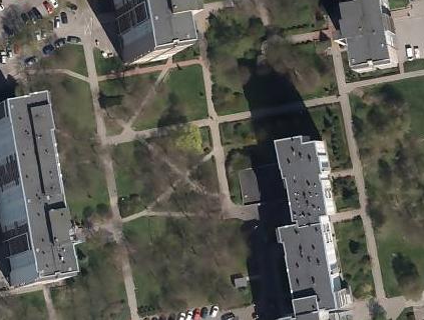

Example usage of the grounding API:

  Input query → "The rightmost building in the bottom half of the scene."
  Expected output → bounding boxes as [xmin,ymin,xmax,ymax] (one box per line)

[266,136,351,320]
